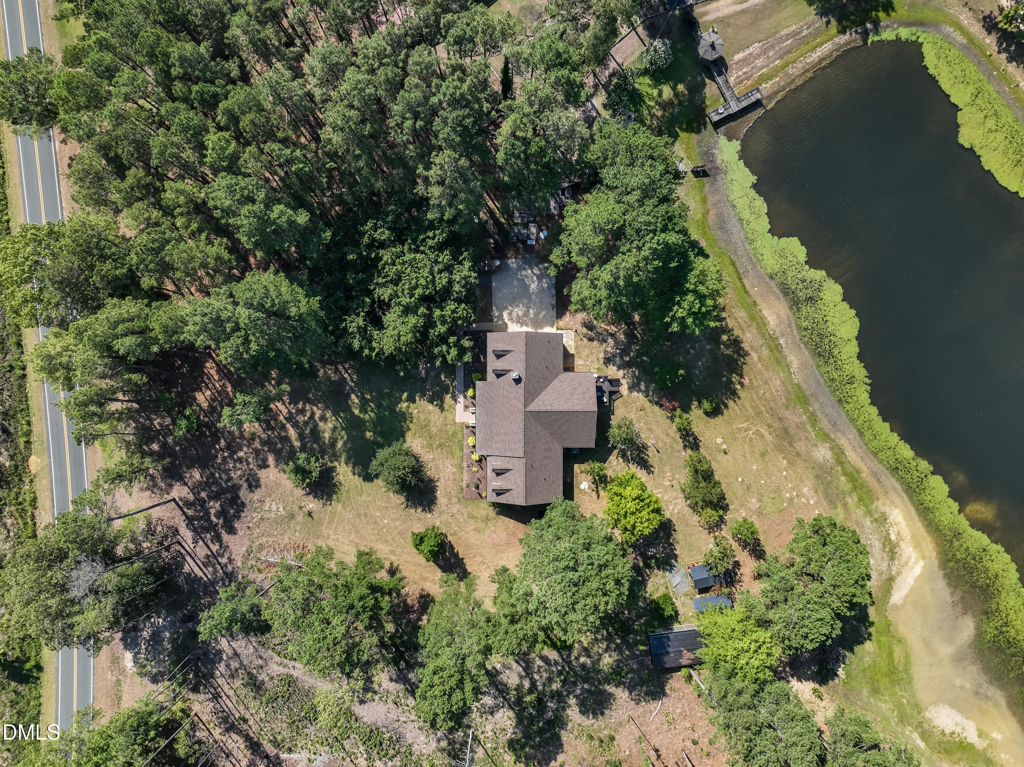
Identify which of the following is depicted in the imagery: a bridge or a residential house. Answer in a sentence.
Of the two, only a residential house appears.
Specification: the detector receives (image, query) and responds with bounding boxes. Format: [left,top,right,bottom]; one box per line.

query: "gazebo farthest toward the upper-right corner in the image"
[693,32,725,68]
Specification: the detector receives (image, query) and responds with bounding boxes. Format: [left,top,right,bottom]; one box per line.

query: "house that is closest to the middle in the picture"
[470,331,598,505]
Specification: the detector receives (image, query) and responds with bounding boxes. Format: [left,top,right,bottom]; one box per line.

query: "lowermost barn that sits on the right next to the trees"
[643,614,707,670]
